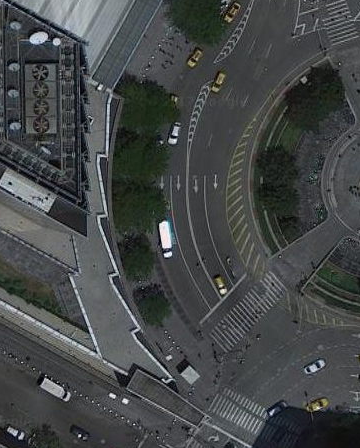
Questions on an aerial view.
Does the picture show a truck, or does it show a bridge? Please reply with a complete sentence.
It is a truck that can be seen here.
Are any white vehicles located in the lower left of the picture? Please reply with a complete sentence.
Yes, looking in the lower left of the picture, one can make out a white vehicle.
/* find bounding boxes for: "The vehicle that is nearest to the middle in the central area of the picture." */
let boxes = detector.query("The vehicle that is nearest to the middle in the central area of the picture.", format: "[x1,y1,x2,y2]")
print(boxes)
[156,218,174,258]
